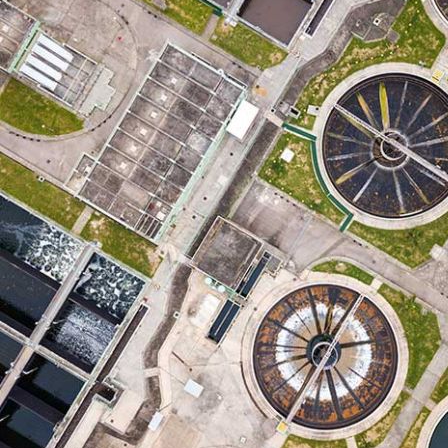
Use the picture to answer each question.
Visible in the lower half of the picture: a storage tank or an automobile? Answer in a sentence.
Looking in the lower half of the picture, you will find a storage tank.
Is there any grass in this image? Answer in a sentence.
Yes, grass shows up in the scene.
